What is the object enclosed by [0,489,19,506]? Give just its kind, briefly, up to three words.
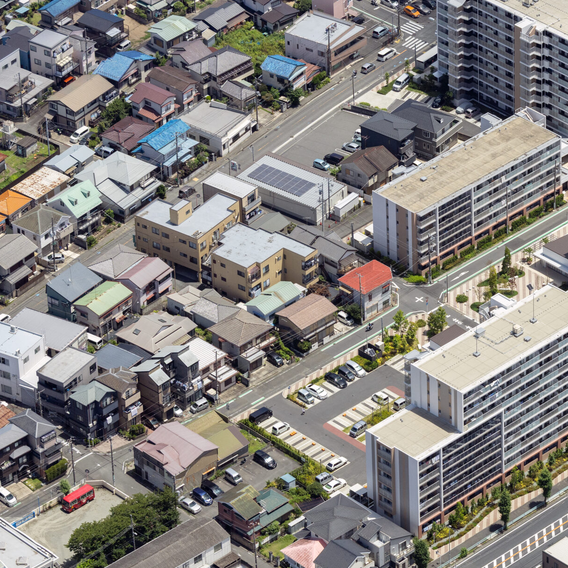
car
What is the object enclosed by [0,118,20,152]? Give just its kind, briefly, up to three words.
water tower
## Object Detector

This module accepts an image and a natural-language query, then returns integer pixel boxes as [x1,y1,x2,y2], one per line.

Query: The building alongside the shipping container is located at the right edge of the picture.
[362,114,560,274]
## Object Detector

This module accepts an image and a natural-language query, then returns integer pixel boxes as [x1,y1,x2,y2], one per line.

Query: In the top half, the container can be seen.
[332,191,360,223]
